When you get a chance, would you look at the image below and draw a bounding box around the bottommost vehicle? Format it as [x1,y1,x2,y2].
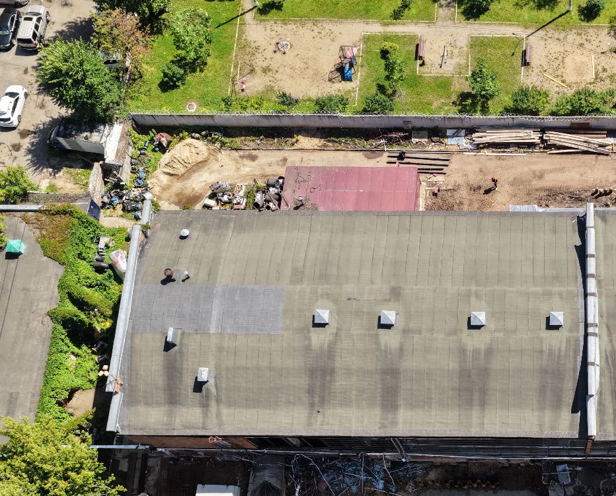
[42,117,105,155]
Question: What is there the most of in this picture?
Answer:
buildings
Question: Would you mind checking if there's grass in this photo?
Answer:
Yes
